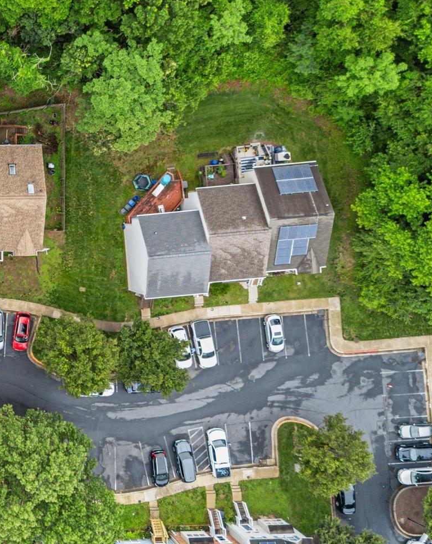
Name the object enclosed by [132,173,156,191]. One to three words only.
trampoline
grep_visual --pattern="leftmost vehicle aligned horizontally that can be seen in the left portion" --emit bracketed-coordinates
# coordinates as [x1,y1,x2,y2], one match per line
[76,380,114,399]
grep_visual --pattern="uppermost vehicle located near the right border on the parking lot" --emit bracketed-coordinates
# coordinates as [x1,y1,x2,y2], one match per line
[393,421,432,440]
